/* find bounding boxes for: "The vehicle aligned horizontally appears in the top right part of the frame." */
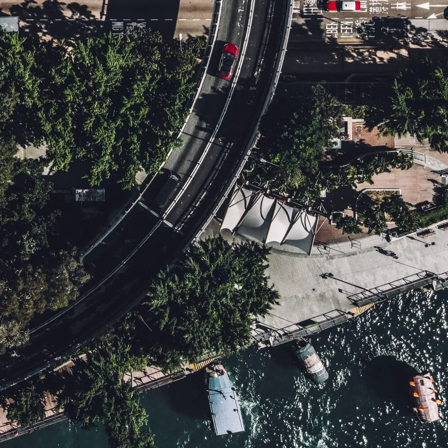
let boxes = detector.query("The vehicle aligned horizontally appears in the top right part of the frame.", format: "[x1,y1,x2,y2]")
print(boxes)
[328,0,360,13]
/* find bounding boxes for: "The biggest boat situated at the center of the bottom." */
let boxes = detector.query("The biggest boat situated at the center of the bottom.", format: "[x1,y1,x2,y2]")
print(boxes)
[199,366,240,438]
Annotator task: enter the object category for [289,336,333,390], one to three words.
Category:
boat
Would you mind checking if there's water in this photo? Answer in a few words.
Yes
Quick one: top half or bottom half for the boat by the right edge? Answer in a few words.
bottom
